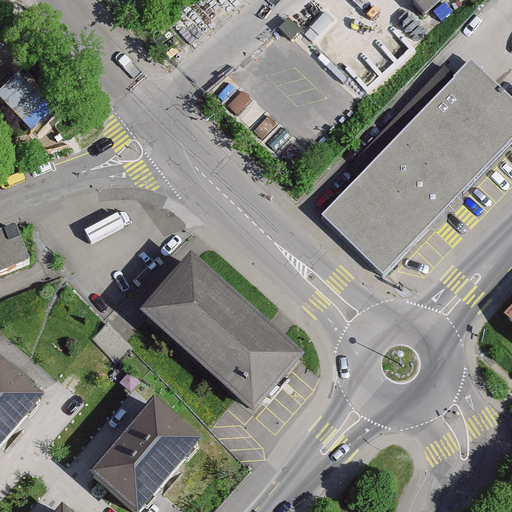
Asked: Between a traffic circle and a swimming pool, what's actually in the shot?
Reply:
traffic circle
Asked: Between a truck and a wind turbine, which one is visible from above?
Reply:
truck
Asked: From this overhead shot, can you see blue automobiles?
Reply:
Yes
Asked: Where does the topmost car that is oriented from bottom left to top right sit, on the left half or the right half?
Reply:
right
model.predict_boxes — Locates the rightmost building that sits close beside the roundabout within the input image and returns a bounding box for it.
[322,59,512,278]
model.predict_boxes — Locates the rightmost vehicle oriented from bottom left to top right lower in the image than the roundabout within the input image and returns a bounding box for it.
[329,443,350,463]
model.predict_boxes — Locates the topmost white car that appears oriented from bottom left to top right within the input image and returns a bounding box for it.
[463,16,483,36]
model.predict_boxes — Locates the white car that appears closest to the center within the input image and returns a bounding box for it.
[162,234,184,256]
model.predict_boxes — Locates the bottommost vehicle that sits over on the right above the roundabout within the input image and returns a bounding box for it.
[404,258,430,275]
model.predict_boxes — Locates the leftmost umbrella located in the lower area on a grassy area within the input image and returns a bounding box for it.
[120,374,140,392]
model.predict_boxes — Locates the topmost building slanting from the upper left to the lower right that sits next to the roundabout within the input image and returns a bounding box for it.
[138,250,305,413]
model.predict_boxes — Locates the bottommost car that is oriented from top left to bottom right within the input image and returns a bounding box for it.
[89,292,108,312]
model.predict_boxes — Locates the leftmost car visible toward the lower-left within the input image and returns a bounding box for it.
[63,396,84,416]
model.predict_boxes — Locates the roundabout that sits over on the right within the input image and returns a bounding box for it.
[340,302,464,426]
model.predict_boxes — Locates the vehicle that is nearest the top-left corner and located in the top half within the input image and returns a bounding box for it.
[112,50,142,80]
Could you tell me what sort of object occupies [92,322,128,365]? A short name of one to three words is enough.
building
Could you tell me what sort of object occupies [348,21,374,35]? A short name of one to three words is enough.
work vehicle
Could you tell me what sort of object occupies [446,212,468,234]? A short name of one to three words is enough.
car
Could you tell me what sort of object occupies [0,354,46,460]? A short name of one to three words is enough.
house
